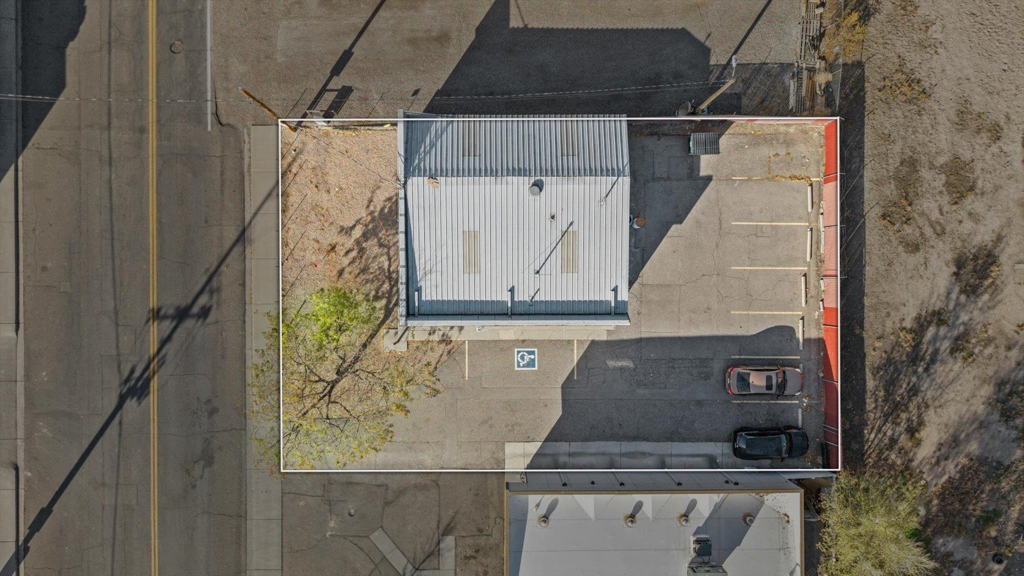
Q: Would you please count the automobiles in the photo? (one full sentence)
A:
In total, there are 2 automobiles in the scene.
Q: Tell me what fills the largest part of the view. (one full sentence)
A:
The largest share of the image is taken up by paved ground.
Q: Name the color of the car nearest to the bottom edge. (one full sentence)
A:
The car nearest to the bottom edge is black.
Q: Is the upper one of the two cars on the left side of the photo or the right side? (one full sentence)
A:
The upper one of the two cars sits on the right side.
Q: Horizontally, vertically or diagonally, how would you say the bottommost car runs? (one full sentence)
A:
I'd say the bottommost car is aligned horizontally in the picture.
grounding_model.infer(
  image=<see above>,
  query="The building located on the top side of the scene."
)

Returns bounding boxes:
[396,108,630,331]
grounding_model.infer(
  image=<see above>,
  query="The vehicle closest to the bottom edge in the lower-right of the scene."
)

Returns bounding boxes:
[730,423,807,461]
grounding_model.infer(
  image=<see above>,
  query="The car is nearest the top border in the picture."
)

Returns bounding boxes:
[725,363,803,399]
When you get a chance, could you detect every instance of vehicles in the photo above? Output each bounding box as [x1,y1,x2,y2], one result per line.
[725,363,803,399]
[730,423,807,461]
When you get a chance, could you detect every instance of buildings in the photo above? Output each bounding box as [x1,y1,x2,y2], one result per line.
[506,463,806,576]
[396,108,630,331]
